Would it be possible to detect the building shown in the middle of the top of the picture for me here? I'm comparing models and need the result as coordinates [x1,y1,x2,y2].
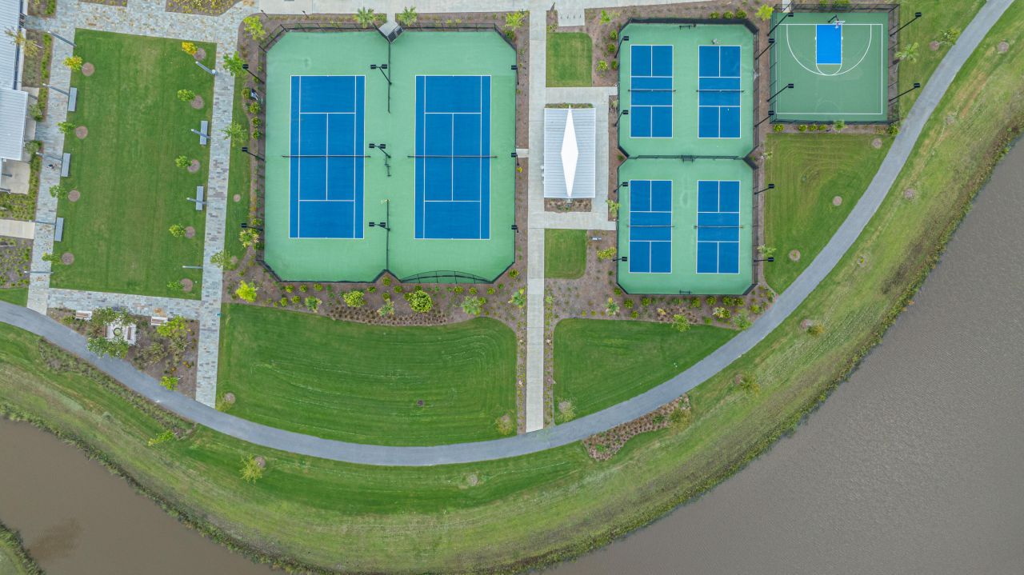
[543,106,597,205]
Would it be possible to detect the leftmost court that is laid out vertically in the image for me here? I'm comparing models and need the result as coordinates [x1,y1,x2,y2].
[264,31,388,281]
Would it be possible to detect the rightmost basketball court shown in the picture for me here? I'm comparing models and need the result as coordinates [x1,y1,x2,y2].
[770,12,888,123]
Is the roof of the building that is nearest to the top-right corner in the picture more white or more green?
white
